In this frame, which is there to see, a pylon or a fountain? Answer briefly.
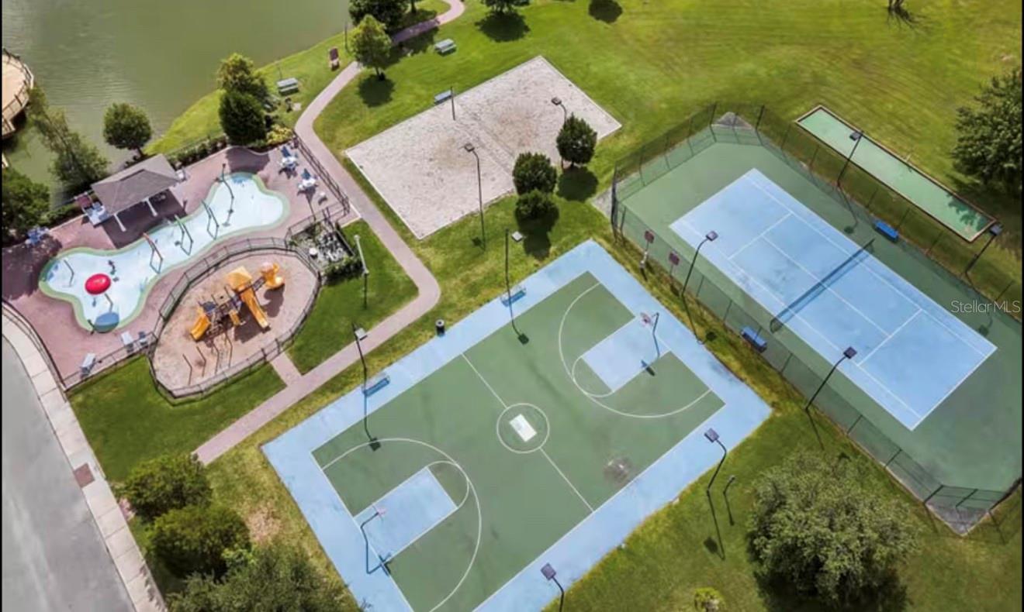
fountain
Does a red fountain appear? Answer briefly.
Yes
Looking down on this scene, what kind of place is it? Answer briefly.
sports ground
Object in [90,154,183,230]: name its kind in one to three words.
building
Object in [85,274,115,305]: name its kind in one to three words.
fountain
